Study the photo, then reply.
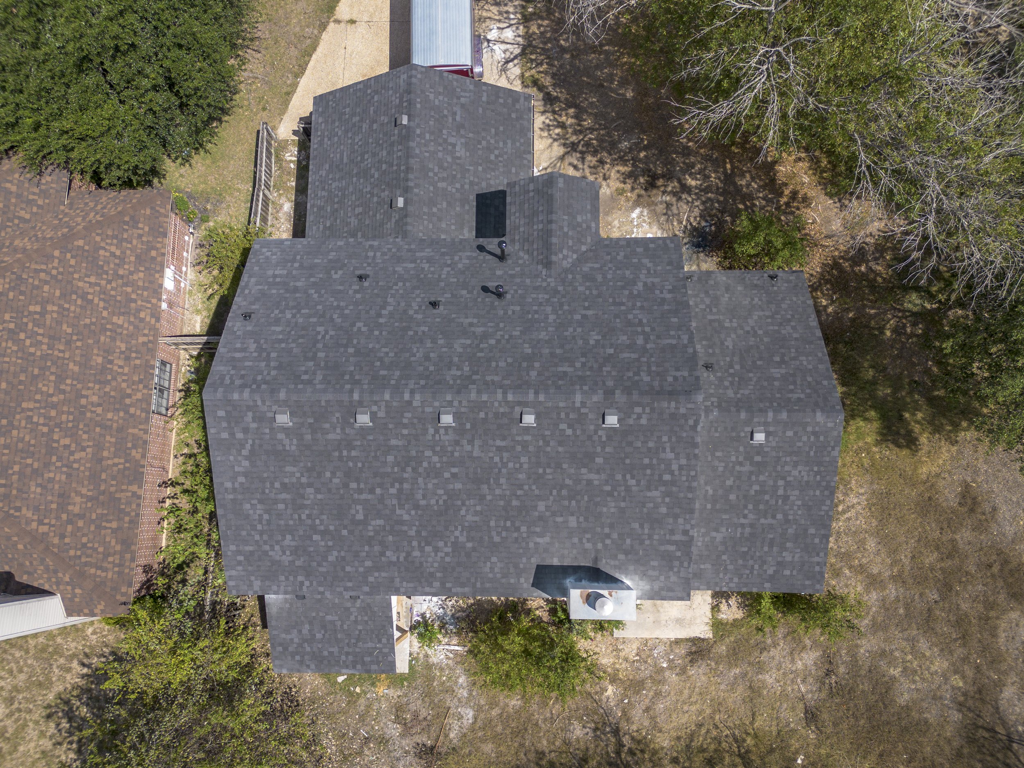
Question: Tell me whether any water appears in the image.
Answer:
No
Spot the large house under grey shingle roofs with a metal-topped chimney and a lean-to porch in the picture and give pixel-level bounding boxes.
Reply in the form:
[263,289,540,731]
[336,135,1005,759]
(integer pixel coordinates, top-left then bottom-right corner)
[202,66,843,673]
